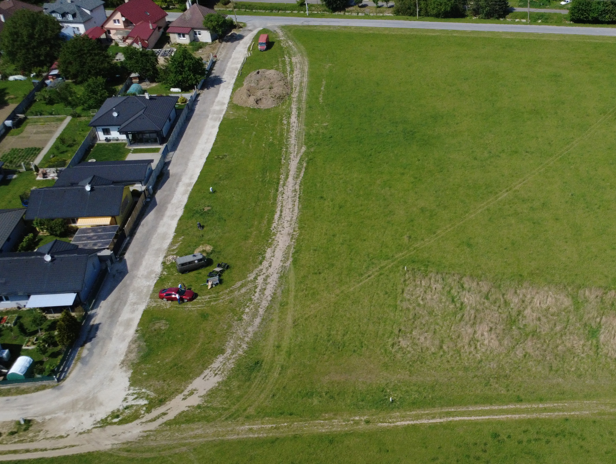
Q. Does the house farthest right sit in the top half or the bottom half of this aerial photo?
top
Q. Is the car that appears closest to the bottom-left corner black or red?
red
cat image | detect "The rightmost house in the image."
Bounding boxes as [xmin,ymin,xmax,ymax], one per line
[165,0,232,40]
